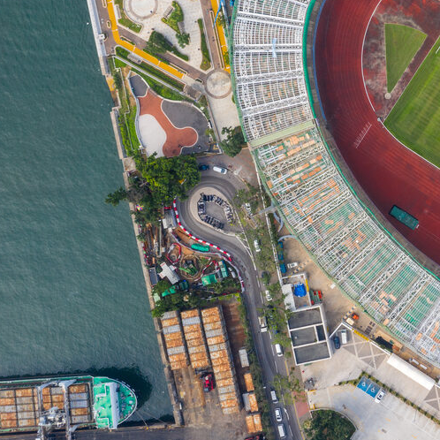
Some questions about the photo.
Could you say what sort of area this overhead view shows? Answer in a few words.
port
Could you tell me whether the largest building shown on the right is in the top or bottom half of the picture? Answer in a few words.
bottom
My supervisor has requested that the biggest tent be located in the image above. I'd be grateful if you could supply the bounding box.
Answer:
[387,353,435,391]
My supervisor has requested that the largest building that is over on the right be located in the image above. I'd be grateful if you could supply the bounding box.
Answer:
[286,299,335,366]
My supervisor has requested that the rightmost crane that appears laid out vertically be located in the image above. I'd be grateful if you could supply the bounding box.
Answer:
[61,373,86,440]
